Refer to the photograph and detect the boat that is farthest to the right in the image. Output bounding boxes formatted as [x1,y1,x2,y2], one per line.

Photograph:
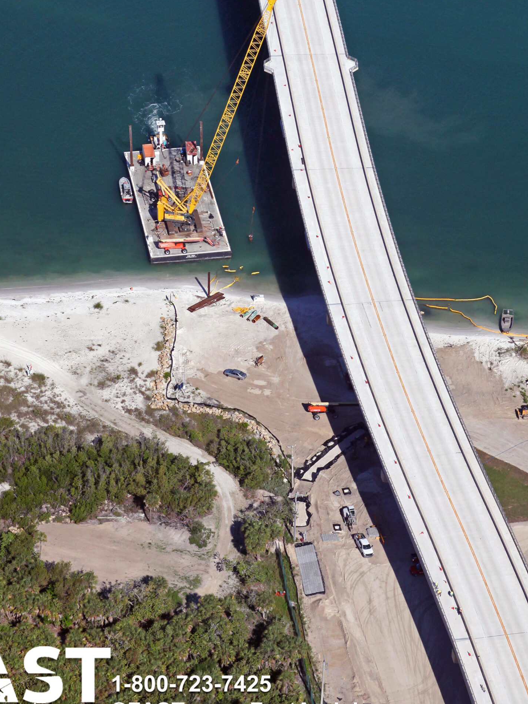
[501,307,514,334]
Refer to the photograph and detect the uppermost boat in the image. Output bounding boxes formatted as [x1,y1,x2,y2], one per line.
[148,109,173,148]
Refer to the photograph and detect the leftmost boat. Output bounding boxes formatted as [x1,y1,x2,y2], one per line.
[119,174,134,205]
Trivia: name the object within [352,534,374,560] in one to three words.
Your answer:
truck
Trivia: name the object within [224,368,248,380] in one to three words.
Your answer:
vehicle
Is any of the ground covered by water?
Yes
